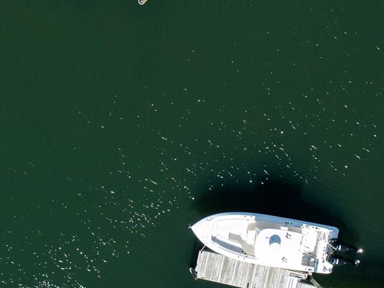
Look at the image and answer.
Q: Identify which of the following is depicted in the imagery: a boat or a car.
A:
boat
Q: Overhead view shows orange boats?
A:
No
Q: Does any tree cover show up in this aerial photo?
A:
No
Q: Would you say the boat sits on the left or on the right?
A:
right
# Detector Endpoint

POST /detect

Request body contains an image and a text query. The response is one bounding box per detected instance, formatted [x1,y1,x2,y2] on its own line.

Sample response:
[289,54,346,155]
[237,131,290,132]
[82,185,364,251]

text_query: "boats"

[188,212,360,273]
